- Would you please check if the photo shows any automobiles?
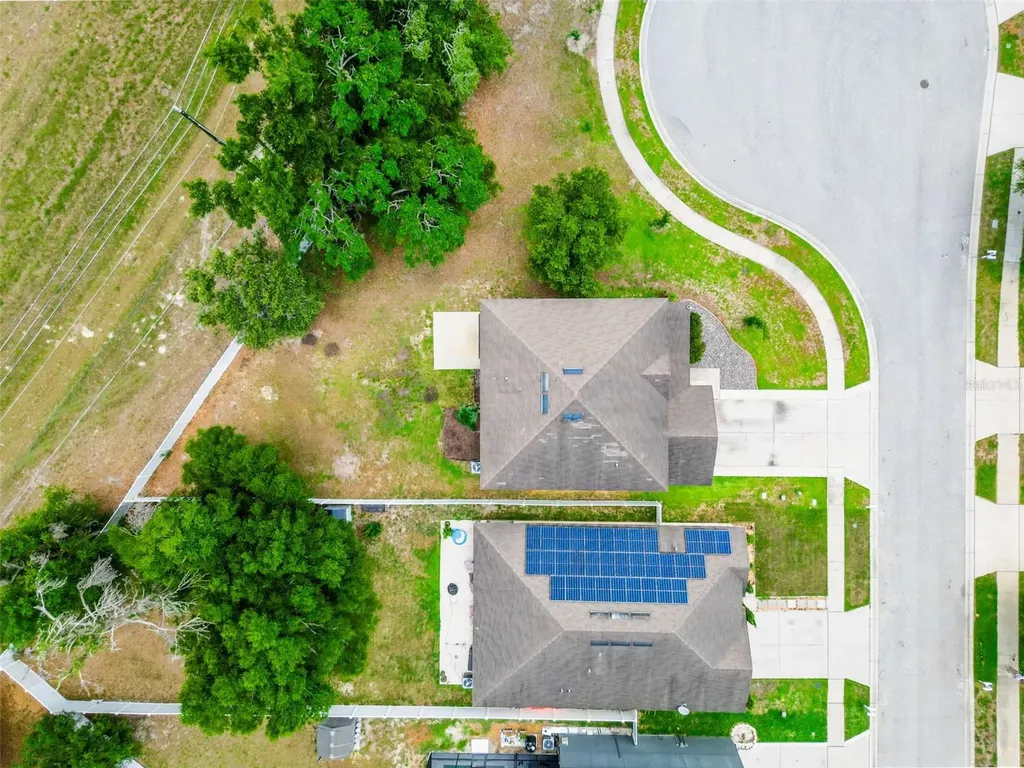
No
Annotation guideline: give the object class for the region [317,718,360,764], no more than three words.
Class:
shed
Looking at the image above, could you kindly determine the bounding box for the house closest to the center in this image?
[479,298,718,491]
